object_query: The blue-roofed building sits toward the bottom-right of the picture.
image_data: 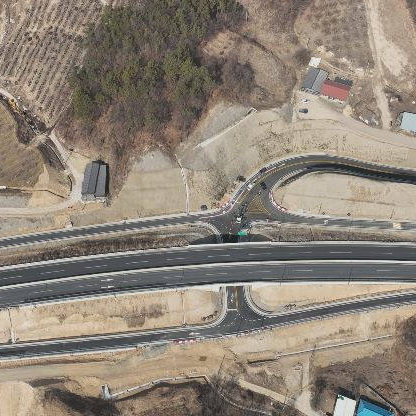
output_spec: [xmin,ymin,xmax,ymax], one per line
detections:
[353,399,393,416]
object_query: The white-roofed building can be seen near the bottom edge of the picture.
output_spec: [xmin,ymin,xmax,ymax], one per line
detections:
[332,395,355,416]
